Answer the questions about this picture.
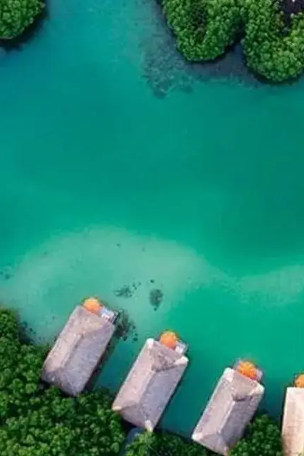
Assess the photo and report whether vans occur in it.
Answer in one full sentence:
No, no van is visible in the view.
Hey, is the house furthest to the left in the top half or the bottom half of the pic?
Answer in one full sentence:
It is in the bottom half that the house furthest to the left appears.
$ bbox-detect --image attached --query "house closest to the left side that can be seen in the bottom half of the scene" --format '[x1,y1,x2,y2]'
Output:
[44,302,118,396]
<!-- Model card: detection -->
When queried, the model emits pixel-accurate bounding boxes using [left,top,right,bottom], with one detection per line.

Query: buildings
[113,336,189,431]
[192,362,264,456]
[284,376,304,456]
[44,302,118,396]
